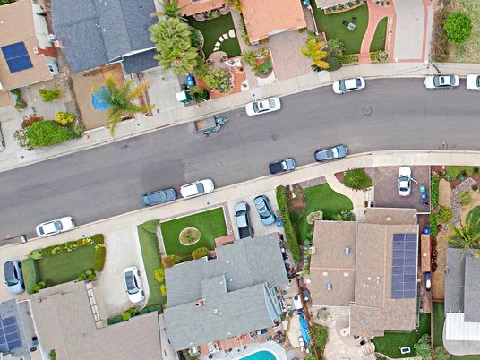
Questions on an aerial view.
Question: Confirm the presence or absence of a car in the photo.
Yes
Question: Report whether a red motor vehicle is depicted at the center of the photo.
No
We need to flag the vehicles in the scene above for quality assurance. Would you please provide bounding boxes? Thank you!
[266,156,298,176]
[179,178,217,198]
[332,76,367,94]
[37,215,77,236]
[254,193,278,227]
[466,73,480,90]
[234,200,252,239]
[5,258,26,294]
[124,264,148,303]
[245,98,282,115]
[424,73,459,89]
[140,187,179,206]
[396,166,412,196]
[192,115,227,135]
